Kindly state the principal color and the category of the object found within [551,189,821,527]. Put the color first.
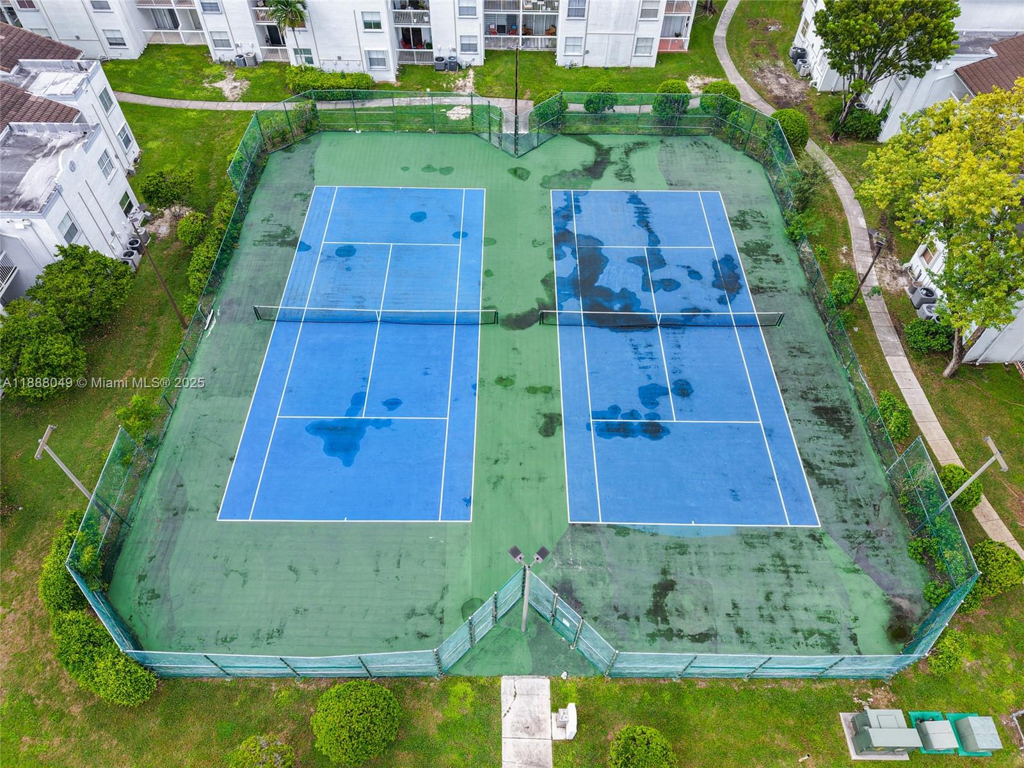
blue tennis court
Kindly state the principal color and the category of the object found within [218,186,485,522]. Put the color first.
blue tennis court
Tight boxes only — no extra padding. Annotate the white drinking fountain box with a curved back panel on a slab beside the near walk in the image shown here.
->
[552,703,575,742]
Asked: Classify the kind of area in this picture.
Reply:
sports ground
